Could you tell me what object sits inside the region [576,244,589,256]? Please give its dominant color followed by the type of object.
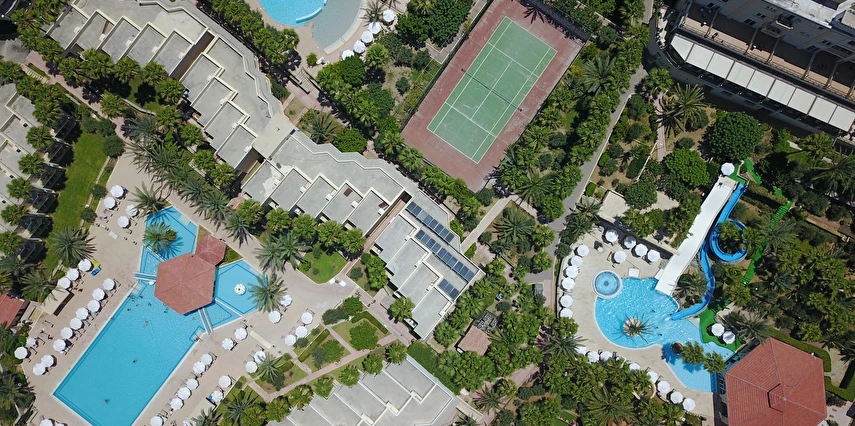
white umbrella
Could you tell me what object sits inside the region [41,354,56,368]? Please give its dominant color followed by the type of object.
white umbrella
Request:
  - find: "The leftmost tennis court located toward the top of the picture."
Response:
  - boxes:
[401,0,586,193]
